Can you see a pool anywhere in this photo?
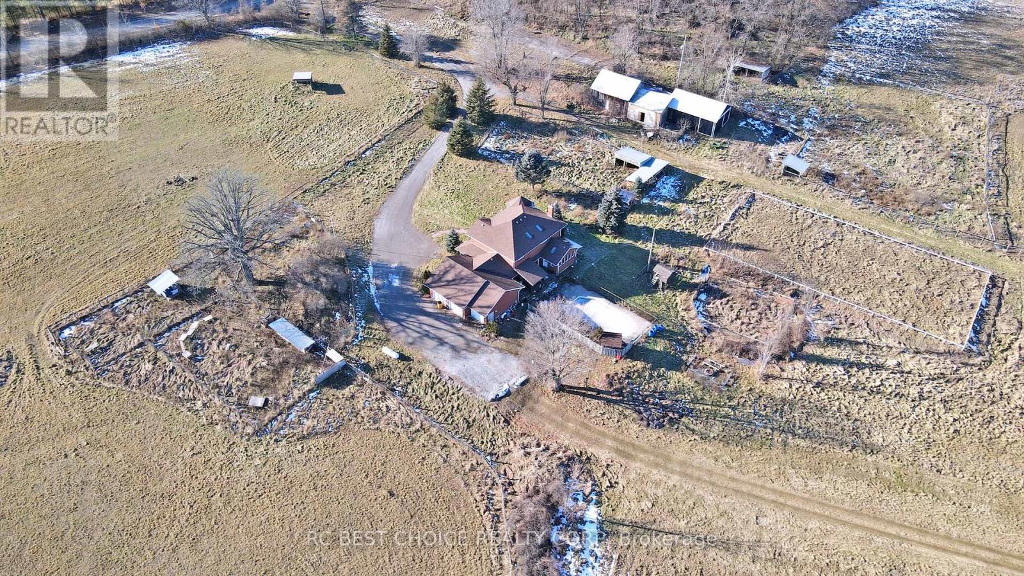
Yes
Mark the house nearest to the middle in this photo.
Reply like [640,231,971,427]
[423,195,585,325]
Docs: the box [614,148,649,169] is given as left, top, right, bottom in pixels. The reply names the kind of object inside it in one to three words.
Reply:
shed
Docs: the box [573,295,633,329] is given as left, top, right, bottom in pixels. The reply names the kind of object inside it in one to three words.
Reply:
swimming pool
